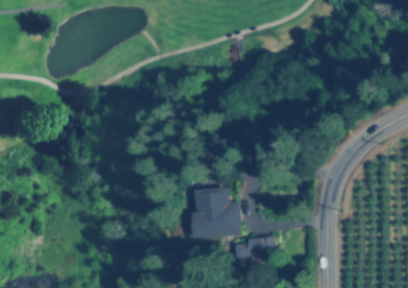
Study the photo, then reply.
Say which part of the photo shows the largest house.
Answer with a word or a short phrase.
bottom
